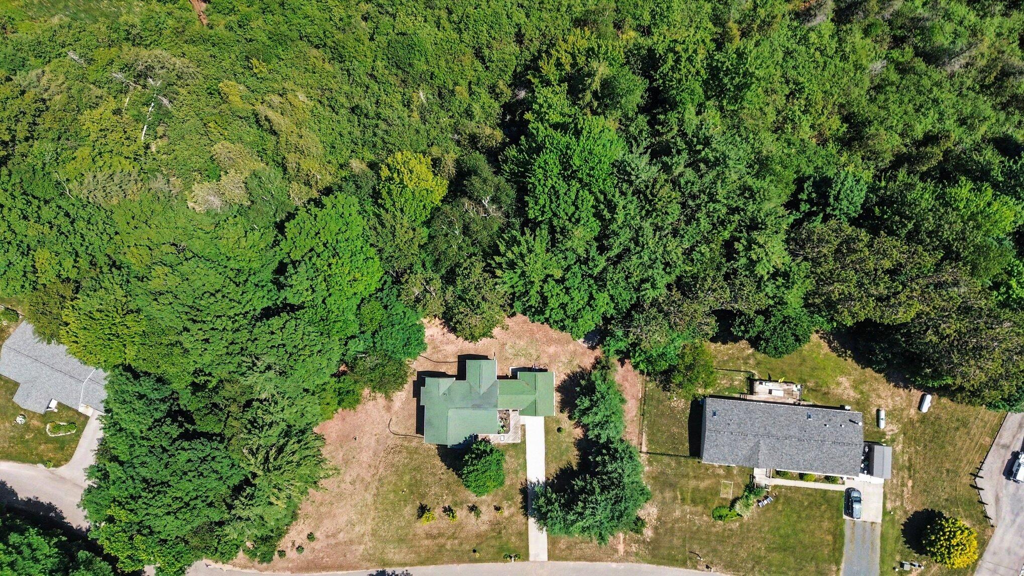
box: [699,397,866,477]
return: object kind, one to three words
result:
house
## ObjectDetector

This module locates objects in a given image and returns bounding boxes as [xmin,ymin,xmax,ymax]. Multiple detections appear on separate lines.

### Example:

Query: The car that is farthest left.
[844,487,862,519]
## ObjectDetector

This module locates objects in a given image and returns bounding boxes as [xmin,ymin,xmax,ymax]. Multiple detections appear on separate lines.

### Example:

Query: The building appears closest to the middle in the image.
[421,359,555,447]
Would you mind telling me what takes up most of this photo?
trees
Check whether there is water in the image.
No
